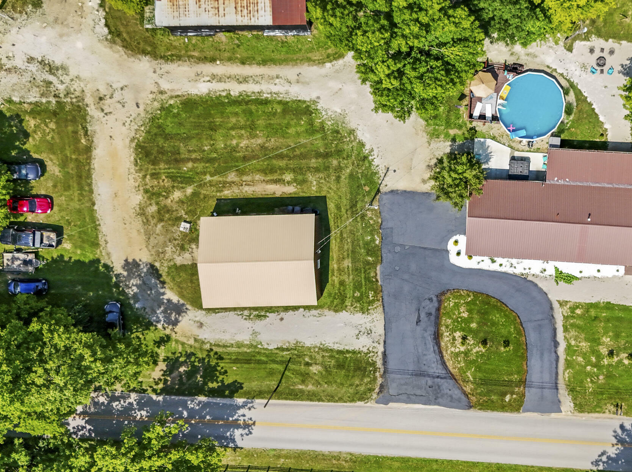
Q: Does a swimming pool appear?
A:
Yes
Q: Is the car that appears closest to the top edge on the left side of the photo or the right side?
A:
left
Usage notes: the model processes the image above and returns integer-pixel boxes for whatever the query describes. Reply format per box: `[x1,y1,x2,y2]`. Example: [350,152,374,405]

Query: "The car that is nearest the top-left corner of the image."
[0,162,44,182]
